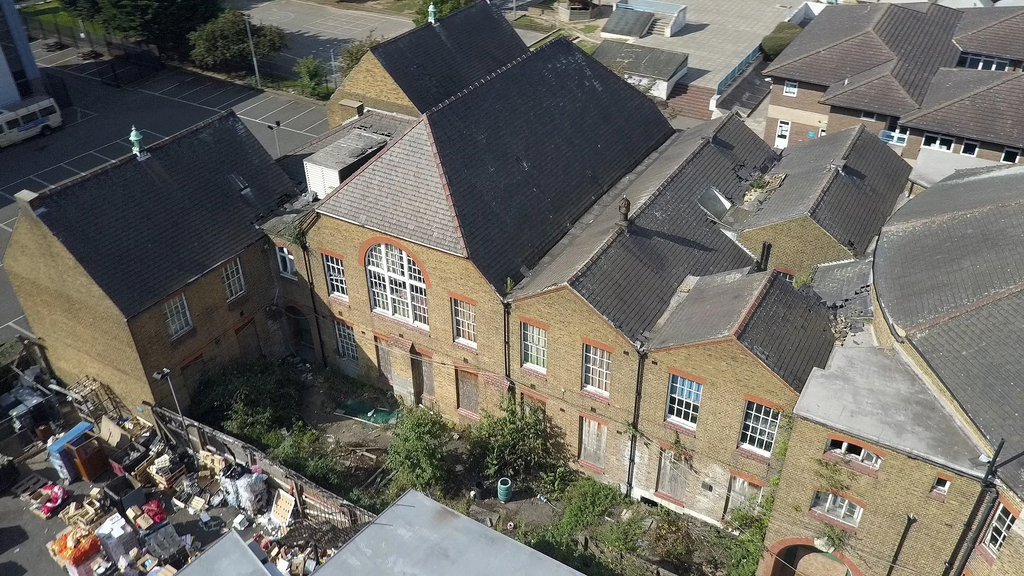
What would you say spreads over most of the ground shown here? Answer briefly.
buildings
